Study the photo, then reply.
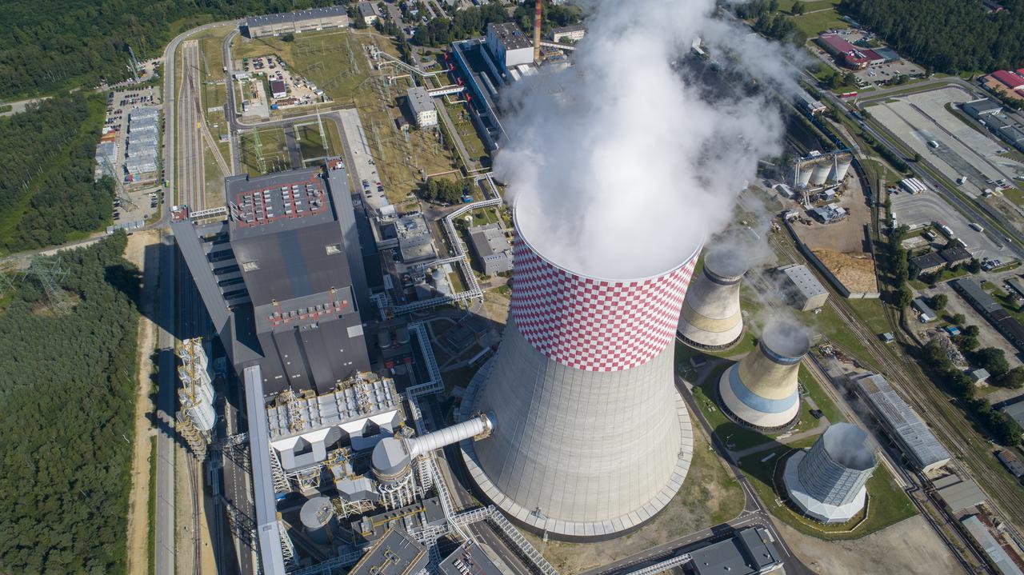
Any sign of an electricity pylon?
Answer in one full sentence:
Yes, you can see an electricity pylon in this photo.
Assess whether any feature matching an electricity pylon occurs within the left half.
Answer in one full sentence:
Yes, I can see an electricity pylon within the left half.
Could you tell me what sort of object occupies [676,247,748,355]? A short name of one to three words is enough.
cooling tower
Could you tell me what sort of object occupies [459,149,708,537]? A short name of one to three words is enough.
cooling tower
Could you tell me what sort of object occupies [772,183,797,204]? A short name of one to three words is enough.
shed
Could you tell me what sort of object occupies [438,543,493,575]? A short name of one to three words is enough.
building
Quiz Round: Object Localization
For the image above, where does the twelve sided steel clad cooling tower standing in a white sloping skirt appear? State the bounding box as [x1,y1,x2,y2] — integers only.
[783,421,879,522]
